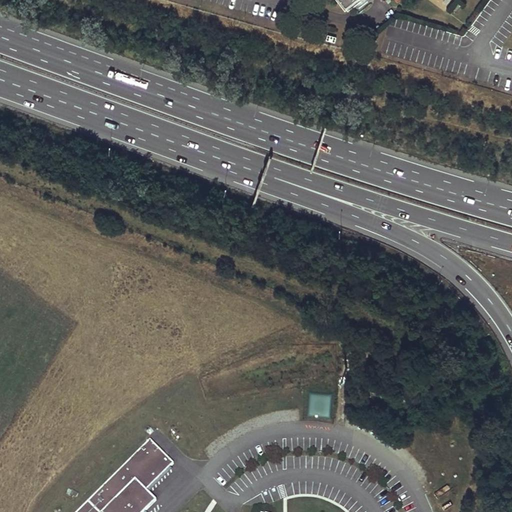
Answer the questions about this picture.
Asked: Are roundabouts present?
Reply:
No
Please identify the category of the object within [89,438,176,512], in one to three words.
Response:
building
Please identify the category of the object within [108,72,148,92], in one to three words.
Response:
truck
